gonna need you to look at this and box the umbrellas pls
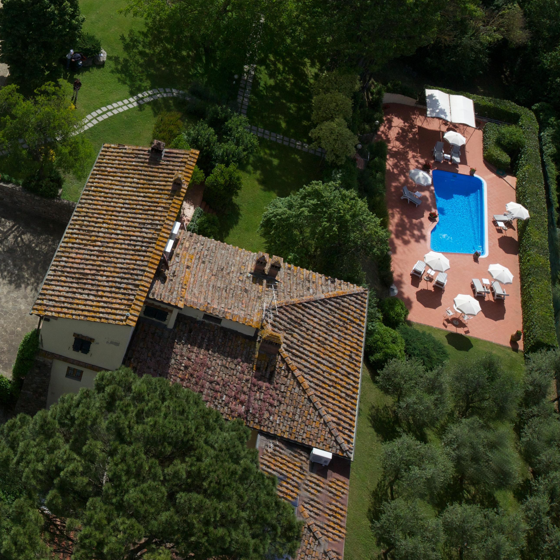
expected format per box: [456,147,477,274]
[445,128,470,156]
[501,202,529,232]
[407,165,433,193]
[453,294,482,326]
[485,264,513,295]
[423,251,451,282]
